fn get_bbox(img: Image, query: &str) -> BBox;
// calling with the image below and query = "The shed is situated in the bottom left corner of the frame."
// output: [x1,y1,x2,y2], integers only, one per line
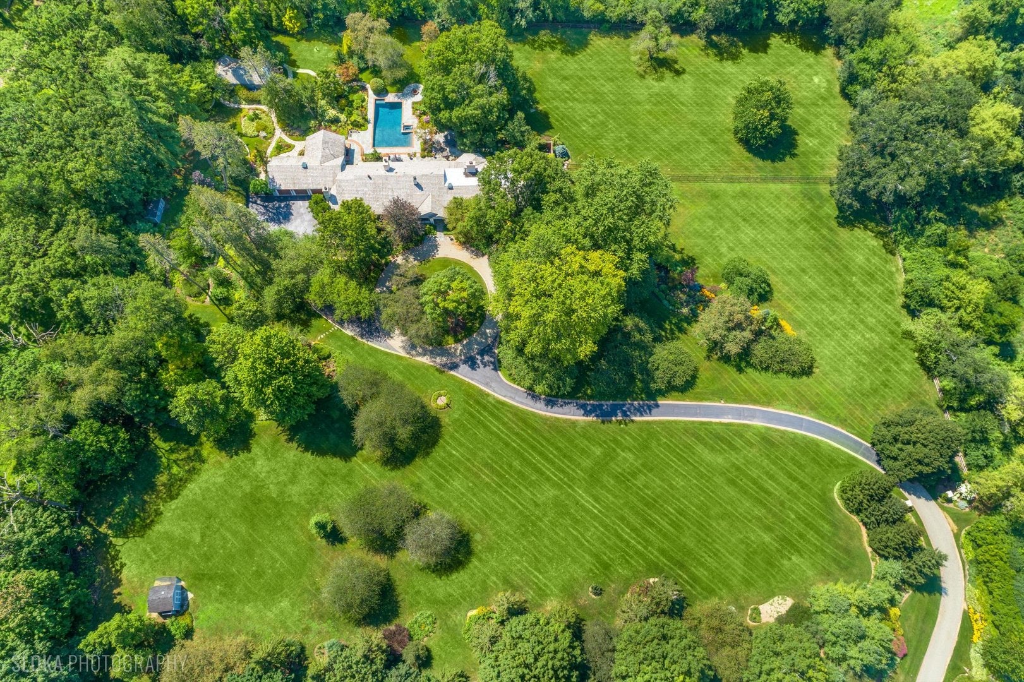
[144,574,190,614]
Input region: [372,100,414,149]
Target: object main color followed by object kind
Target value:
blue swimming pool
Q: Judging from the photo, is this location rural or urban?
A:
rural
